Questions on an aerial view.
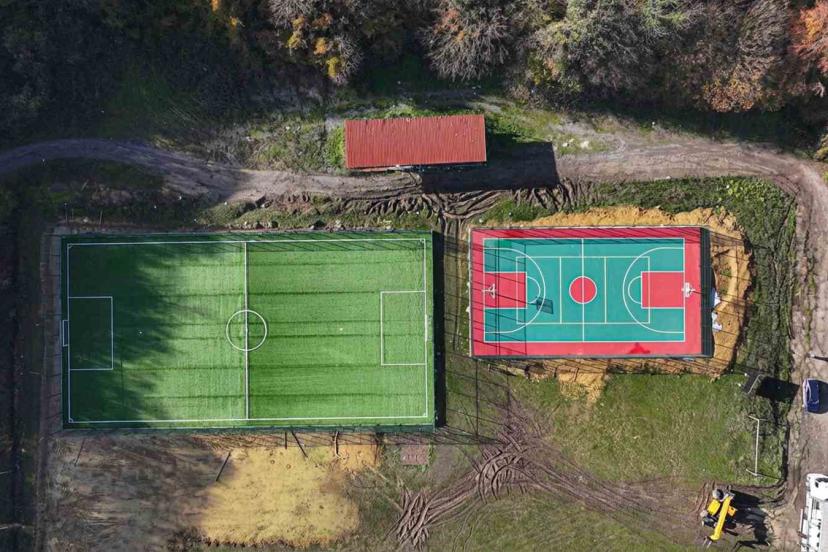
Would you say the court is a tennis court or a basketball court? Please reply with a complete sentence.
In the photo, the court shows up as a basketball court.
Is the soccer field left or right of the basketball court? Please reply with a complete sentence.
In the image, the soccer field sits on the left side of the basketball court.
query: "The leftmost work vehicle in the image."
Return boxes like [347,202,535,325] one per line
[693,486,737,545]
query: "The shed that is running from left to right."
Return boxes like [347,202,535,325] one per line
[344,114,488,171]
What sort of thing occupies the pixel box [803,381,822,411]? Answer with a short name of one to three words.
car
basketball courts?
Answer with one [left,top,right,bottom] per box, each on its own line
[471,227,703,357]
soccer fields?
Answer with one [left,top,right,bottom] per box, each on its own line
[61,231,433,428]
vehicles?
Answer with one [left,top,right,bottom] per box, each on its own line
[803,381,822,411]
[693,486,737,545]
[802,474,828,552]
